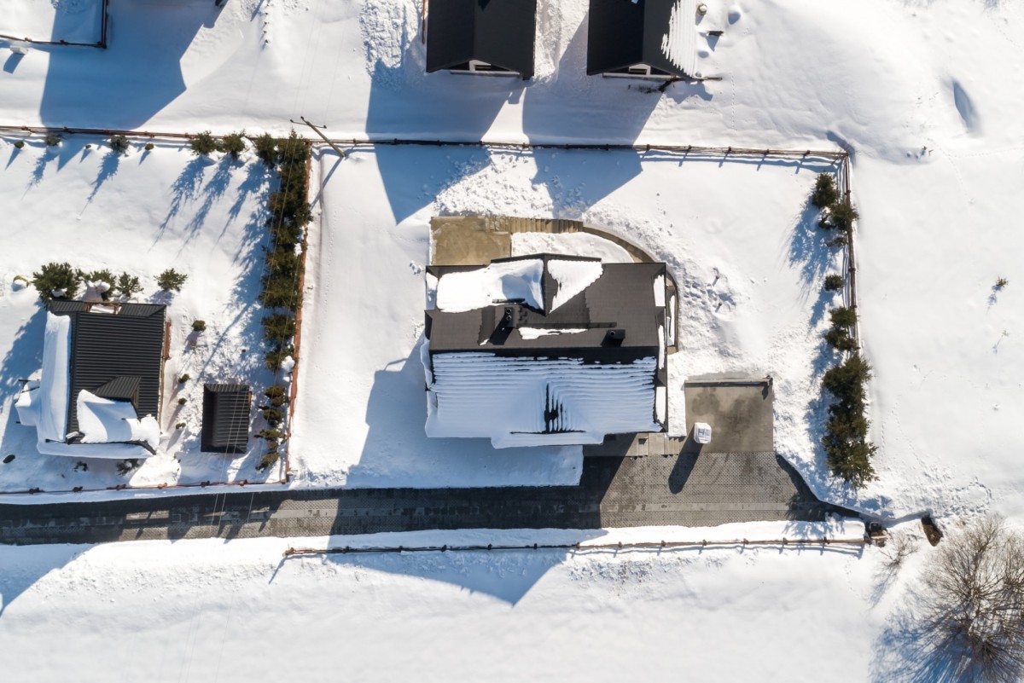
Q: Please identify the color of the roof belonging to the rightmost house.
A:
black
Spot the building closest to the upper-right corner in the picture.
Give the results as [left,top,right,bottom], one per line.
[587,0,698,81]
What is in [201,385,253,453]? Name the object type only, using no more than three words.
shed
